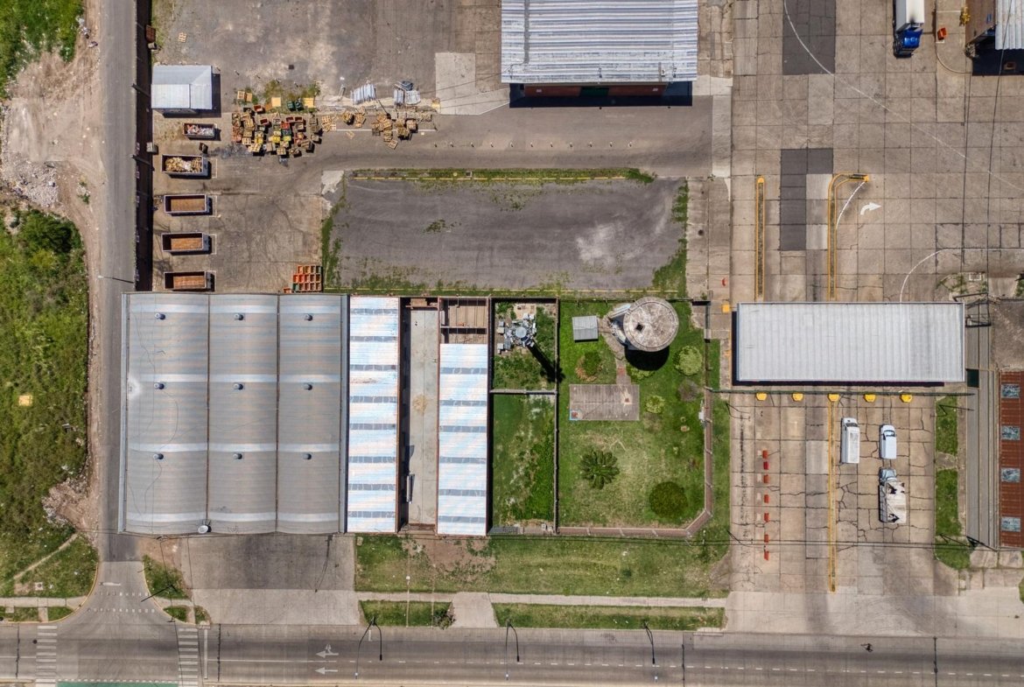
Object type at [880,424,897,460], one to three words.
vehicle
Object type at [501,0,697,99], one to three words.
building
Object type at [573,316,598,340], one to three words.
building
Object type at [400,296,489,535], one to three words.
shed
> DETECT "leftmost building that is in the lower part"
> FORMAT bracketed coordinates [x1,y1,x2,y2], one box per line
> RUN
[120,293,349,536]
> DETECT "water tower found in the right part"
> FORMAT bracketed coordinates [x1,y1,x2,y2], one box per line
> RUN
[607,297,680,352]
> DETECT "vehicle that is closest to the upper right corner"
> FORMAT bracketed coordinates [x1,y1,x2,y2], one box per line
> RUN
[892,0,924,58]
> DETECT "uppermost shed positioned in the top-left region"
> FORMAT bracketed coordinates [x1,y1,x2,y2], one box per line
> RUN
[152,65,212,109]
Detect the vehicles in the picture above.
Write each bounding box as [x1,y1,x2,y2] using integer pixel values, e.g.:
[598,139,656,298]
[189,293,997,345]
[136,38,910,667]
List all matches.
[880,424,897,460]
[892,0,924,58]
[842,417,861,464]
[881,467,905,527]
